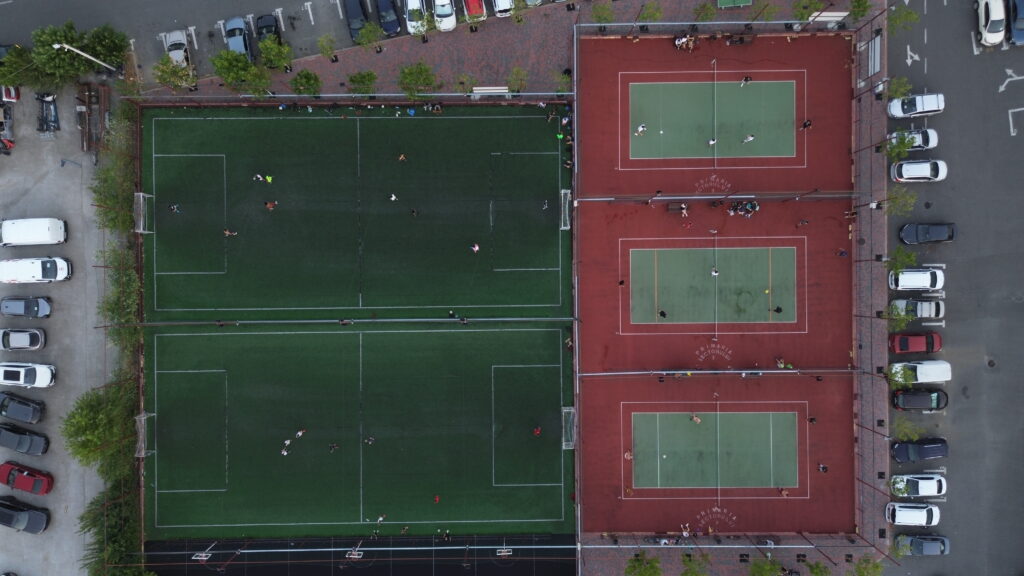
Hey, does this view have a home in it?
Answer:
No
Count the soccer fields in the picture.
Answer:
2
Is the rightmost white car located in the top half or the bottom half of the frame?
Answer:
top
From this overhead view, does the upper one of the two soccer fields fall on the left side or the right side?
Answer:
left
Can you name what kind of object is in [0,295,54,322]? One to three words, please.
car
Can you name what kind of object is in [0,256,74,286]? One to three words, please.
vehicle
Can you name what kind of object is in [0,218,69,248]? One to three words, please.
vehicle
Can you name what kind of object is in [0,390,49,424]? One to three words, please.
car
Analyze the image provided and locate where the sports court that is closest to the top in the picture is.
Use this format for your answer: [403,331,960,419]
[579,35,852,198]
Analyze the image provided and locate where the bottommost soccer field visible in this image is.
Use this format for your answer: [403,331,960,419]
[143,318,573,541]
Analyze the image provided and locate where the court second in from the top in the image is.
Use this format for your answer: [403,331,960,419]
[579,197,854,371]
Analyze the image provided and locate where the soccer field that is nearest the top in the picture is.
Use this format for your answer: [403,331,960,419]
[140,103,573,323]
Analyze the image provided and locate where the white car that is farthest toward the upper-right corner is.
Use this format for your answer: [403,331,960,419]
[972,0,1009,49]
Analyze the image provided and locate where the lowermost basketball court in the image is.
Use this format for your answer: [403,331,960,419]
[147,535,573,576]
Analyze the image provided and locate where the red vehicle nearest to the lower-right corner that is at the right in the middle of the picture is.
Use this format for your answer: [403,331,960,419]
[885,330,942,357]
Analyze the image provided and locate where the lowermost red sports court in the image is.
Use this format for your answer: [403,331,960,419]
[580,371,856,534]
